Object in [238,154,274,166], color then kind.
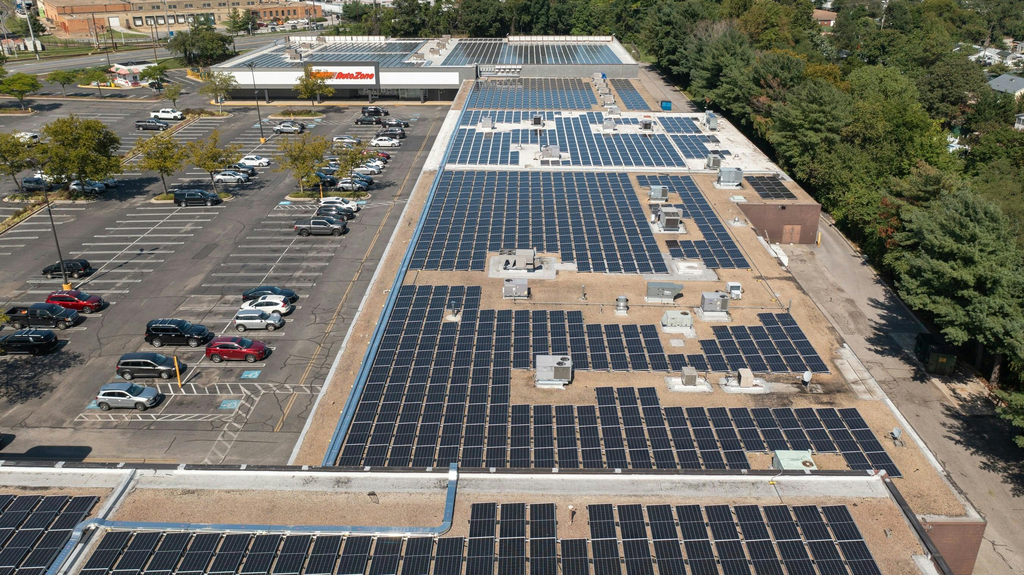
white vehicle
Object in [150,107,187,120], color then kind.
white vehicle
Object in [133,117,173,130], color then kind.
gray vehicle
